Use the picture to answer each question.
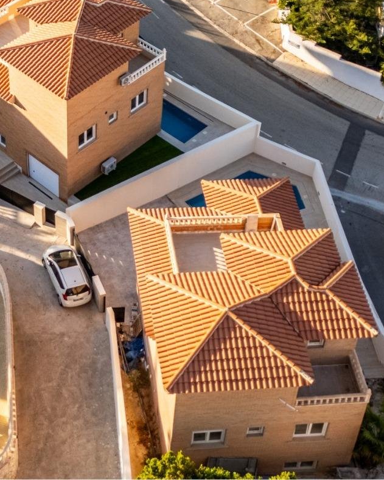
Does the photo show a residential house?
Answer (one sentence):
Yes, the photo shows a residential house.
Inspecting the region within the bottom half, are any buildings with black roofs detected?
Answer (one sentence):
No, no building with a black roof appears within the bottom half.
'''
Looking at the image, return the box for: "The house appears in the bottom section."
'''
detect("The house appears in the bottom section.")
[126,173,378,477]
